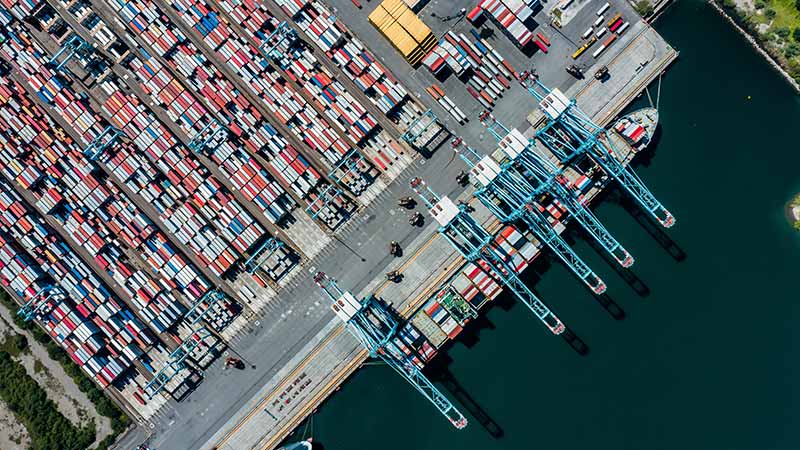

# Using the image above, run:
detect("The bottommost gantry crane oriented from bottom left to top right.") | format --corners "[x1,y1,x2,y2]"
[141,359,185,401]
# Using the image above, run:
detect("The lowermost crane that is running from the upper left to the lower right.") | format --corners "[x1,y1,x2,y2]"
[316,273,470,428]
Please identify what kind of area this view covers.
port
